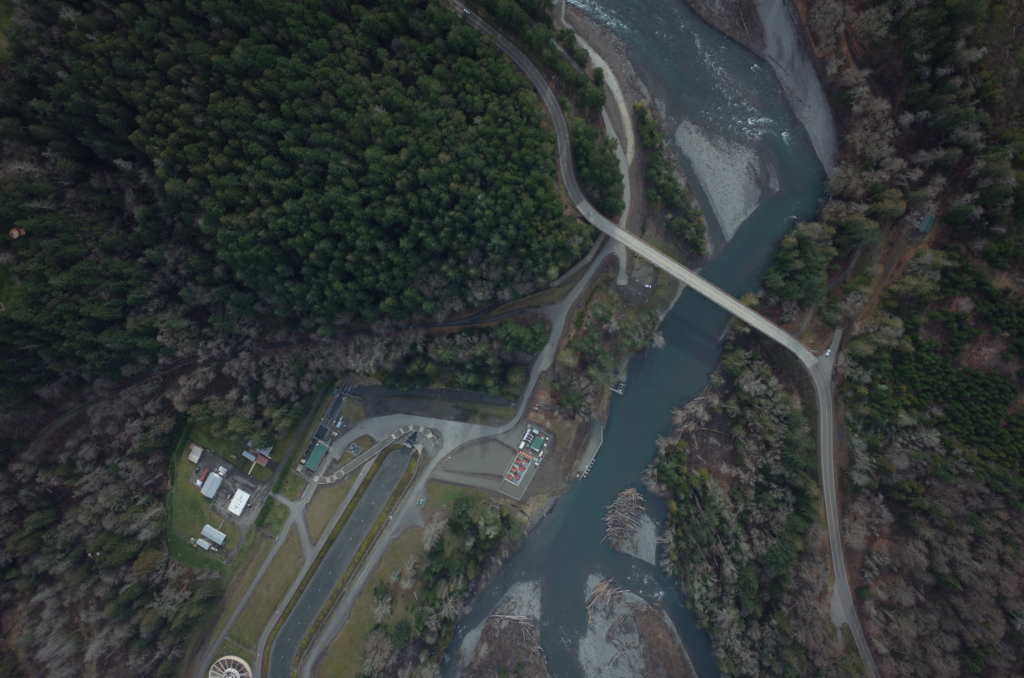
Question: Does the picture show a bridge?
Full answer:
Yes, this view includes a bridge.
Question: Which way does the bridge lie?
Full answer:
The bridge is laid out diagonally.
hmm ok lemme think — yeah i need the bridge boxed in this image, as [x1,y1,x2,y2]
[575,197,819,371]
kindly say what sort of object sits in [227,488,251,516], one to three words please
building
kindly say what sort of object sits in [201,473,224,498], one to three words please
building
